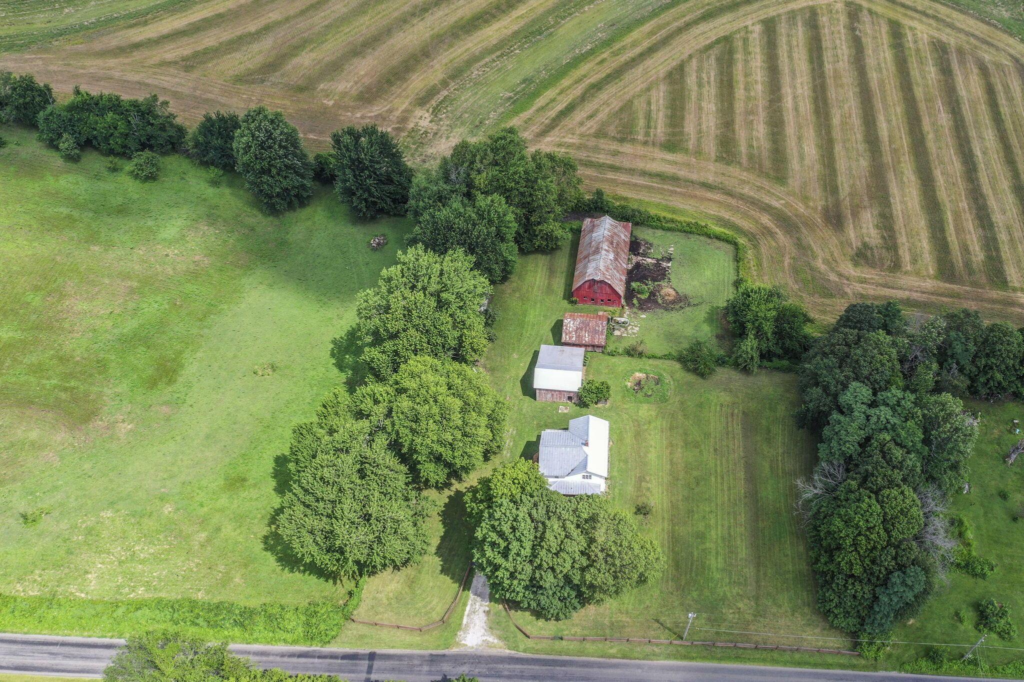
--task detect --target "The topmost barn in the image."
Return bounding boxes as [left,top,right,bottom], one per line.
[572,215,630,308]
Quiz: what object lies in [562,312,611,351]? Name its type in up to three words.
shed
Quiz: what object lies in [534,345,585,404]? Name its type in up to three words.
shed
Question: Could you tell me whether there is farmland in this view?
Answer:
Yes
